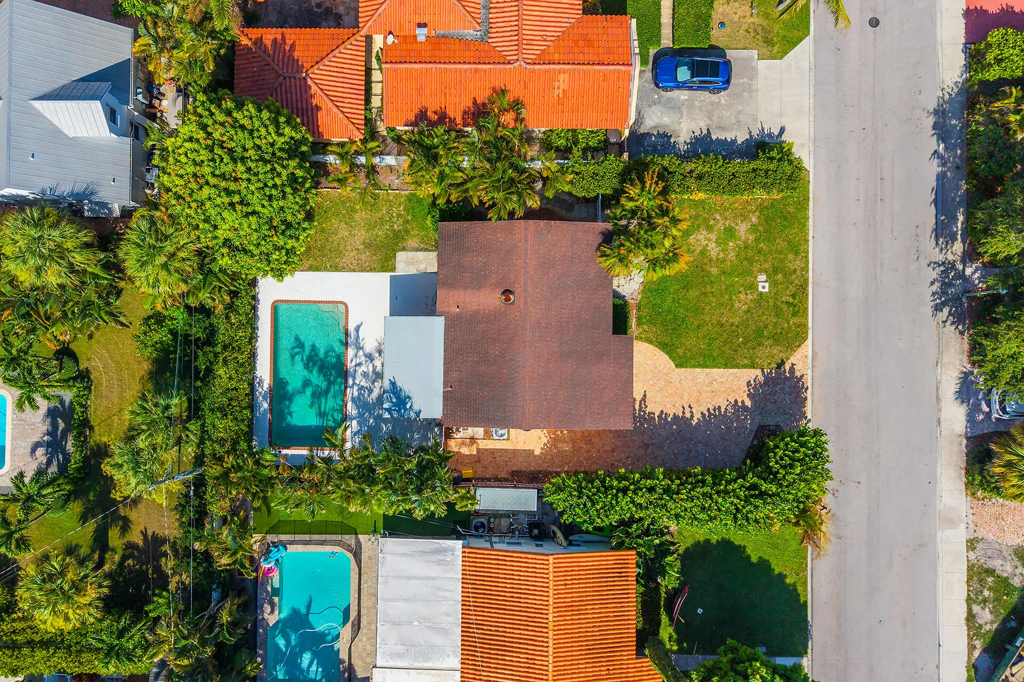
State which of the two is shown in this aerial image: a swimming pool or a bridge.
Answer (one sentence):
Of the two, only a swimming pool appears.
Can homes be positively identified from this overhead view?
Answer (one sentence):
Yes, the picture does show a home.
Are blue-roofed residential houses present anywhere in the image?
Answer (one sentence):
No, there is no blue-roofed residential house in the image.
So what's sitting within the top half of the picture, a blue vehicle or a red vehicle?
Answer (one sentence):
Looking within the top half of the picture, you will find a blue vehicle.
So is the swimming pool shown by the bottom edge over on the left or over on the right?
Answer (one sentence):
The swimming pool shown by the bottom edge sits on the left side.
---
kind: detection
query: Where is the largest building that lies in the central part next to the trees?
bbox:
[382,218,633,432]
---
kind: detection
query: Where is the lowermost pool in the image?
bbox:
[265,550,352,682]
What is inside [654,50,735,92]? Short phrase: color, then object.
blue car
